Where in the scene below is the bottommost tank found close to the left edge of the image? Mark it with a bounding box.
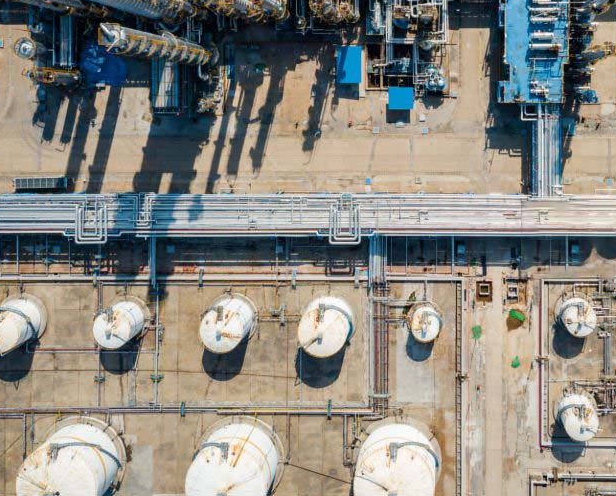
[14,416,126,496]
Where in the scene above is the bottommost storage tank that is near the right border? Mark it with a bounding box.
[556,392,600,442]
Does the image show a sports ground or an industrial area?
industrial area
